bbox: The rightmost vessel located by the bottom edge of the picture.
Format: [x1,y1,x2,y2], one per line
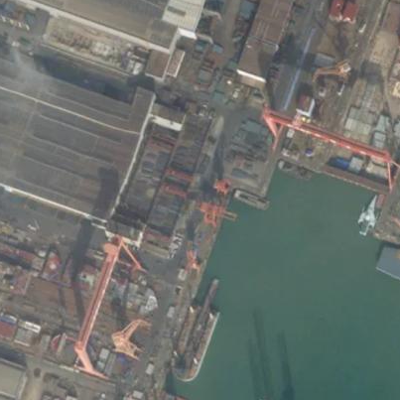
[172,280,220,381]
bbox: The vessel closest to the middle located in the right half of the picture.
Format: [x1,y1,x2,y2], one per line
[233,190,269,210]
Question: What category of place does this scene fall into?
port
